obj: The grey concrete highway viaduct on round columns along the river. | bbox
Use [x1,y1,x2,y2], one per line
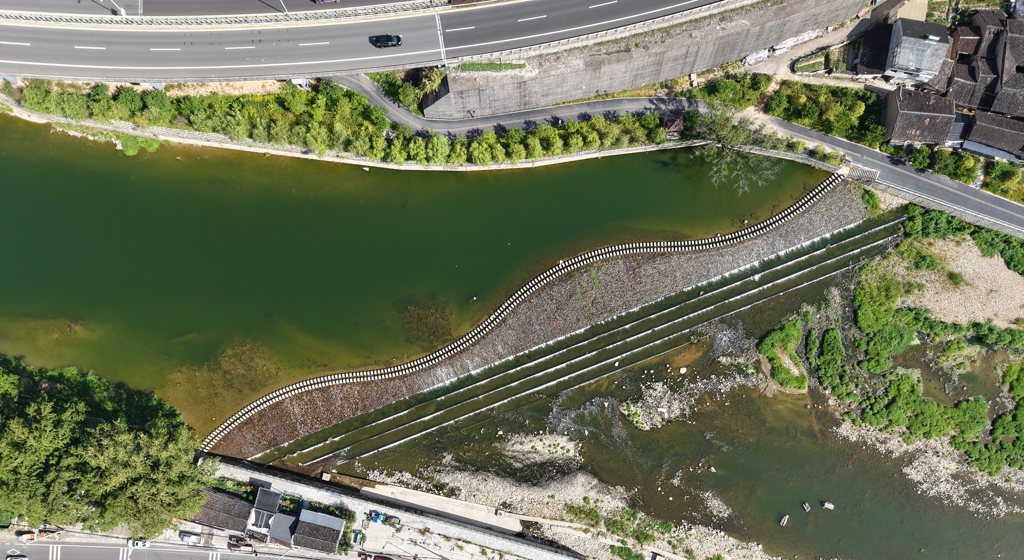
[0,0,445,90]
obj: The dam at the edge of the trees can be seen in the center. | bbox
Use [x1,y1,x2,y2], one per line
[204,173,911,477]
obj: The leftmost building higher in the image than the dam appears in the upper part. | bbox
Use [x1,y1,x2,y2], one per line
[666,112,688,138]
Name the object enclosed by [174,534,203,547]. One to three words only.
vehicle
